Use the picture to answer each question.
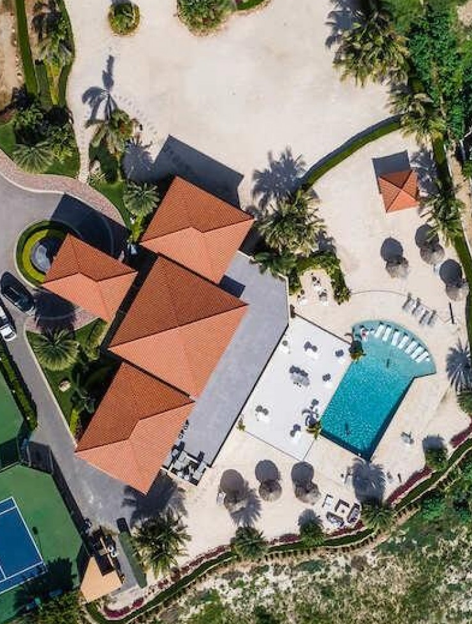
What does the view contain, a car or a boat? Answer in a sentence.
Looking from above, you can make out a car.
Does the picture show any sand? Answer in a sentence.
Yes, the picture does contain sand.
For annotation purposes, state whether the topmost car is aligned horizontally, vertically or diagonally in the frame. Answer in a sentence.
In this picture, the topmost car lies diagonally.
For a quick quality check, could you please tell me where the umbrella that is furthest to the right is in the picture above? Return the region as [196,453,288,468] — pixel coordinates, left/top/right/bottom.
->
[445,277,467,301]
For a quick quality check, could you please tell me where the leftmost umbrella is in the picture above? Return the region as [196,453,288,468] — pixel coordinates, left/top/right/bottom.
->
[223,489,244,512]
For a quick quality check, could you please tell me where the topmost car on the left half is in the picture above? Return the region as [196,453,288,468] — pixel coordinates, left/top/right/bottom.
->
[2,279,36,314]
